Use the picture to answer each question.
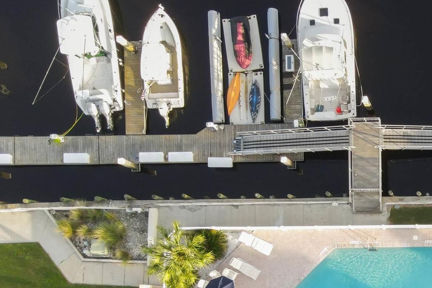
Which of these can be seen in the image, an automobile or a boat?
boat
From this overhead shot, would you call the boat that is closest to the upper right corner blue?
No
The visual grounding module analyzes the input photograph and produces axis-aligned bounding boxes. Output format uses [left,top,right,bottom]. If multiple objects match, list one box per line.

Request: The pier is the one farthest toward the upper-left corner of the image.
[124,40,147,135]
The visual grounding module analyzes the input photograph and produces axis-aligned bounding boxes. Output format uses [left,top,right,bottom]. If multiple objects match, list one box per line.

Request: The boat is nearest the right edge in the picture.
[294,0,356,123]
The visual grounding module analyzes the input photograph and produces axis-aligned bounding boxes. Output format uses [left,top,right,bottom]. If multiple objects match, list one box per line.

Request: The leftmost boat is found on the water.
[33,0,124,136]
